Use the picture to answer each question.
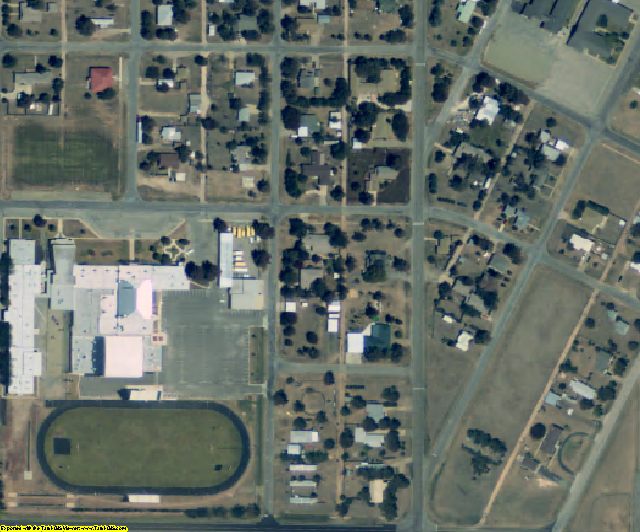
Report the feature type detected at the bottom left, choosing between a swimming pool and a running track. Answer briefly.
running track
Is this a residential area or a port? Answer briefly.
residential area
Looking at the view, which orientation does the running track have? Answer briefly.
horizontally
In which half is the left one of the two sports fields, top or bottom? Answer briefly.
top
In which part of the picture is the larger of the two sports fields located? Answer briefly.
bottom left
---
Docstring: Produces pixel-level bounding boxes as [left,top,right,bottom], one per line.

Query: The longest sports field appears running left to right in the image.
[45,408,242,486]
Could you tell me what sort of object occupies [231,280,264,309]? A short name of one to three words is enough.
building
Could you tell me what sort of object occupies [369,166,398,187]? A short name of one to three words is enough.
house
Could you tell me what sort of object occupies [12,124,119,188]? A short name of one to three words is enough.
sports field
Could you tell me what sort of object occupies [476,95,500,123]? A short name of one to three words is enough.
house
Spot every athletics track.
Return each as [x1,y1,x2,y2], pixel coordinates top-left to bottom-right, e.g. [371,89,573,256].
[38,400,250,494]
